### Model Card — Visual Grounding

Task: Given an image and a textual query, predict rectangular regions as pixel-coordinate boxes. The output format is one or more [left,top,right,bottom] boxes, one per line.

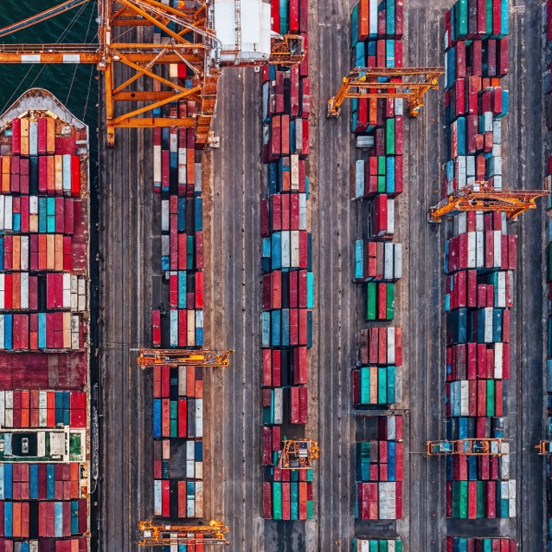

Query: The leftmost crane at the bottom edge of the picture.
[136,508,227,551]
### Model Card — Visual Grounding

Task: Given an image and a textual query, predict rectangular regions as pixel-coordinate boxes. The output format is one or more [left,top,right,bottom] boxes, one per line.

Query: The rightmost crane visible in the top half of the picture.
[436,186,551,236]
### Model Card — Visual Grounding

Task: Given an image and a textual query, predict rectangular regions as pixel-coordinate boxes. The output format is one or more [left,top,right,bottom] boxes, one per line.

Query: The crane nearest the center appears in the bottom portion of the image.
[135,341,227,381]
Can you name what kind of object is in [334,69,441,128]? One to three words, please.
crane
